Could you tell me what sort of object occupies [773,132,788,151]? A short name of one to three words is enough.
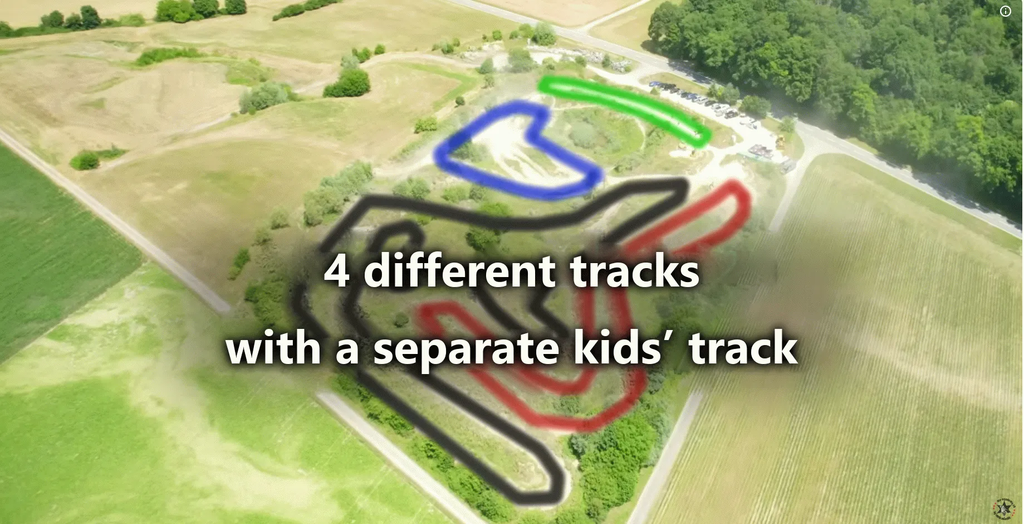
work vehicle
